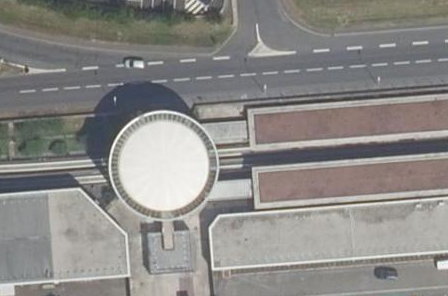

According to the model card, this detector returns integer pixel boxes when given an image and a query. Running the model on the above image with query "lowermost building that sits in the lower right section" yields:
[211,198,448,275]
